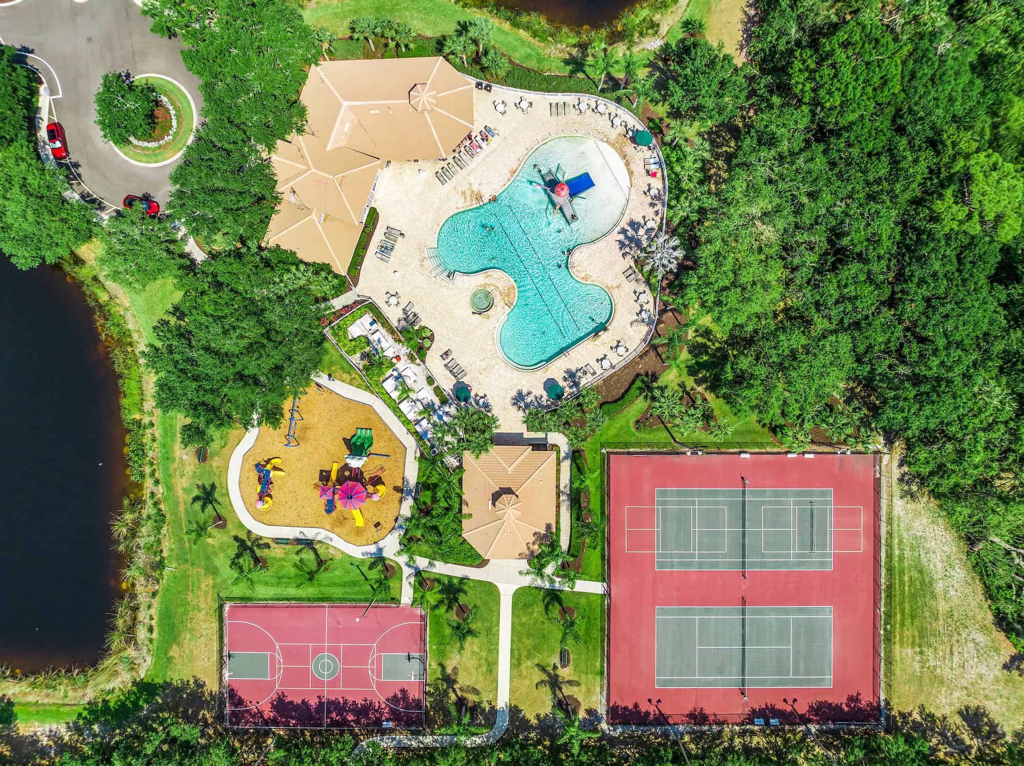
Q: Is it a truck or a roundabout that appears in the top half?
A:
roundabout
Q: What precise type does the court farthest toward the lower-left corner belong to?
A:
basketball court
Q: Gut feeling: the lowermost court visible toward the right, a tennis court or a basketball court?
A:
tennis court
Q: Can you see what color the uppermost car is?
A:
red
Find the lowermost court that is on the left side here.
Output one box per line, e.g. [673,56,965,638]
[226,605,425,730]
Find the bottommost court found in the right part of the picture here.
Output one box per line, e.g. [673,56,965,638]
[656,607,833,688]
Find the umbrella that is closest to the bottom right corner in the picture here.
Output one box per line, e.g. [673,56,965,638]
[547,383,564,400]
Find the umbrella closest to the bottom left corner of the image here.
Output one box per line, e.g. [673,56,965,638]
[455,384,472,401]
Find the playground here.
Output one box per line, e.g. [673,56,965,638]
[535,166,595,225]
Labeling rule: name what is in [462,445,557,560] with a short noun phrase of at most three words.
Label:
building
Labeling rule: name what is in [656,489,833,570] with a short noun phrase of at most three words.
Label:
tennis court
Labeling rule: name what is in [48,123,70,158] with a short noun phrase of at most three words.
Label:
car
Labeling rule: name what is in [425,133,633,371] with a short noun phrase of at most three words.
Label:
swimming pool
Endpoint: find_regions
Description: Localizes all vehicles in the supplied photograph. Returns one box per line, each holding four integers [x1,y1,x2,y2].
[48,123,70,158]
[124,196,160,215]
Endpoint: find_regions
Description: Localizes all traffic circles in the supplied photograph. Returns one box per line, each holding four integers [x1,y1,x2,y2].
[103,72,198,167]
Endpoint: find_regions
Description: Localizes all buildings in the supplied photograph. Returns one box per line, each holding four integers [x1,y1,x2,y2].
[462,445,557,560]
[265,56,474,275]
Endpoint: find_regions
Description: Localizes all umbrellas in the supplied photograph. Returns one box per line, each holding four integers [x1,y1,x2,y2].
[455,384,472,401]
[636,129,652,146]
[547,383,564,400]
